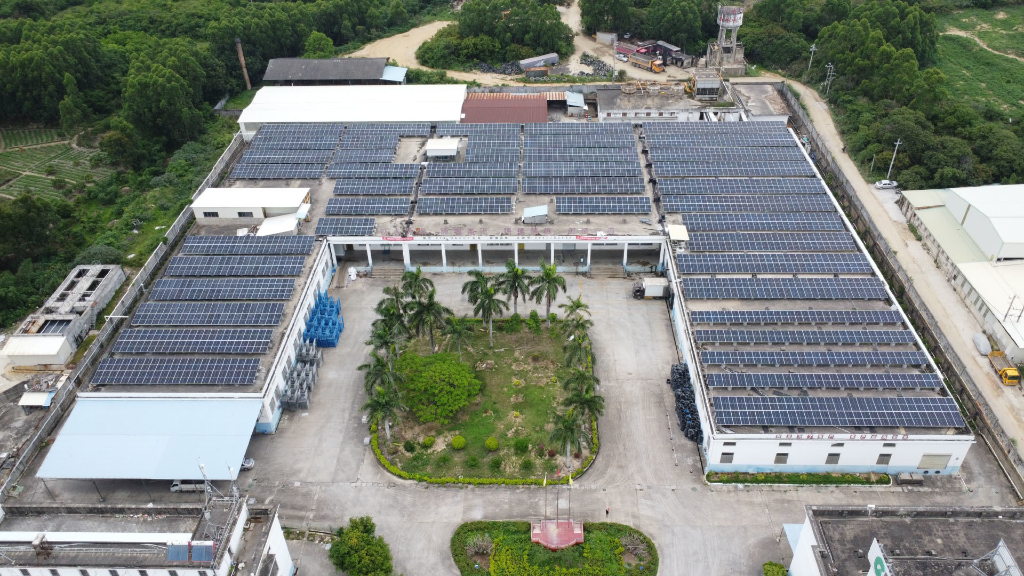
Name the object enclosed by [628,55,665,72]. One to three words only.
vehicle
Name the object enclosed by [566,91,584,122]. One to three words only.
shed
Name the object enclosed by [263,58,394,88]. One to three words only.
shed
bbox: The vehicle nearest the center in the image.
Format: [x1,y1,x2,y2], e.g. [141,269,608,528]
[633,276,667,298]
